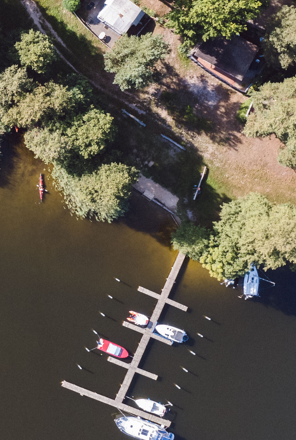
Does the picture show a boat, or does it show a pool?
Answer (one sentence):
It is a boat that can be seen here.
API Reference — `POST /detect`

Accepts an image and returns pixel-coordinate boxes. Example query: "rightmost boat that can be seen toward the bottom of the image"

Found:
[243,265,271,301]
